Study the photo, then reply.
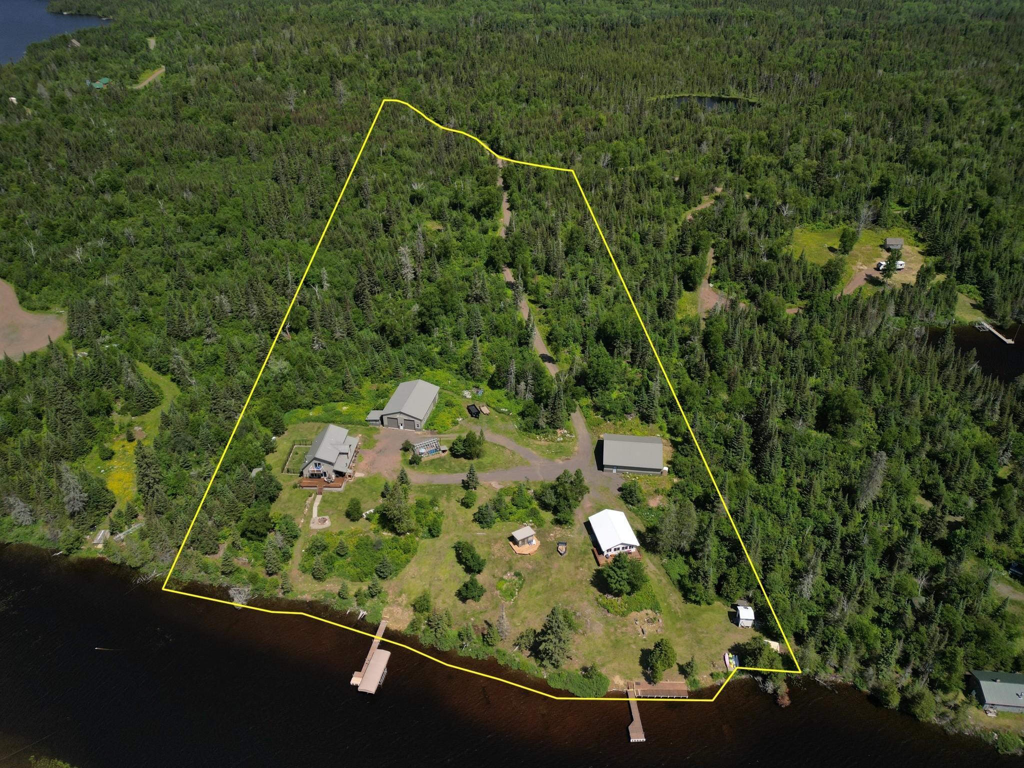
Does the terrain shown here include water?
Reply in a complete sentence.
Yes, water shows up in the scene.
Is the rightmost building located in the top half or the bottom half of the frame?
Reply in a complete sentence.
The rightmost building sits in the bottom half of the picture.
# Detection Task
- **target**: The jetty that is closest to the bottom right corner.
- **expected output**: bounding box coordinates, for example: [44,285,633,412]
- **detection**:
[624,682,646,742]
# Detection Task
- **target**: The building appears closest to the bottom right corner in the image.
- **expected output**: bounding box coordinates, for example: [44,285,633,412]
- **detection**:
[973,662,1024,716]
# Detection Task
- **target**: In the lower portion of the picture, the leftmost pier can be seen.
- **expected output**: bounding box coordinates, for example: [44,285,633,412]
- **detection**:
[350,615,389,688]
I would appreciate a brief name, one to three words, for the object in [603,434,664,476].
barn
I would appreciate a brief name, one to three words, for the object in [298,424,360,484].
house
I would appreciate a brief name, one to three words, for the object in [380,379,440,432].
building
